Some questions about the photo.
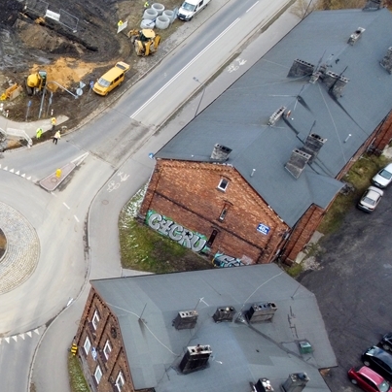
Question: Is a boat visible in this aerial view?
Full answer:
No, I can see no boat in this picture.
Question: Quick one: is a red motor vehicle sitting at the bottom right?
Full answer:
Yes, a red motor vehicle is visible at the bottom right.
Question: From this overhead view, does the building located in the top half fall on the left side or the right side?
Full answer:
The building located in the top half appears in the right half of the scene.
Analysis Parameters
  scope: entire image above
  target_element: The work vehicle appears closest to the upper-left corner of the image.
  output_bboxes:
[25,63,51,102]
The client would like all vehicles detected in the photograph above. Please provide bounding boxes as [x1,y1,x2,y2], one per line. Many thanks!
[94,58,133,94]
[25,63,51,102]
[360,342,392,383]
[356,183,388,214]
[182,0,210,17]
[371,163,392,189]
[130,25,157,61]
[350,364,392,392]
